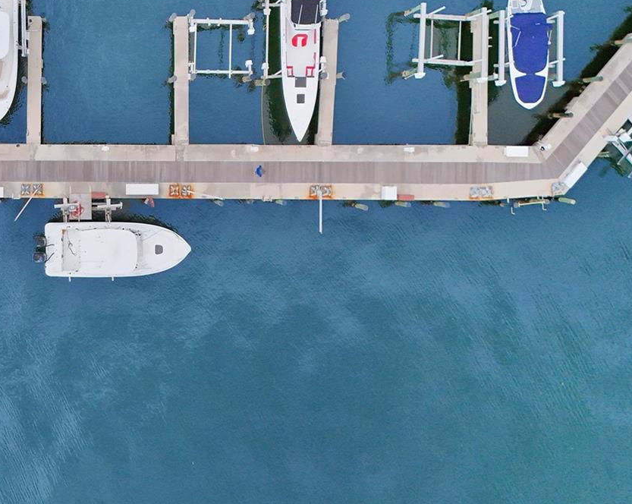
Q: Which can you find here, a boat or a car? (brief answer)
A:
boat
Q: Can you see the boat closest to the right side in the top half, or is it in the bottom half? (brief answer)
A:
top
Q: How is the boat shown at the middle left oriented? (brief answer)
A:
from side to side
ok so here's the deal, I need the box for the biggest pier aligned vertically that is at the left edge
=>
[26,15,44,145]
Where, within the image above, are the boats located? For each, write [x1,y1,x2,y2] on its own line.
[0,0,19,119]
[280,0,321,142]
[33,222,192,277]
[504,0,553,110]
